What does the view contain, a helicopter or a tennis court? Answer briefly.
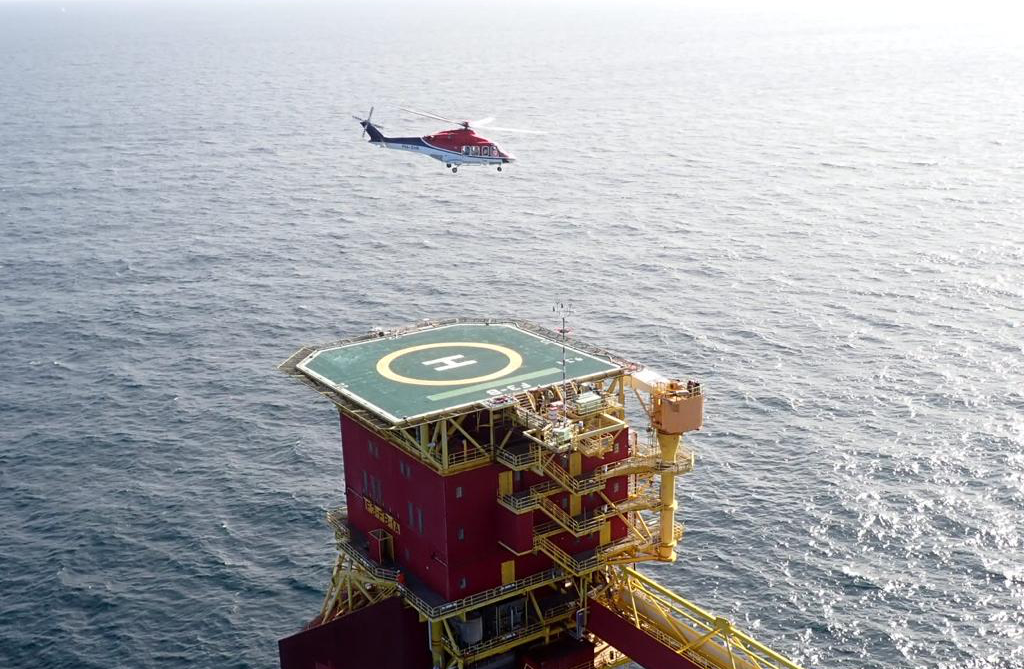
helicopter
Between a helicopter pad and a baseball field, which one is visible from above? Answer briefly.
helicopter pad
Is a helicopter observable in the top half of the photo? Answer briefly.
Yes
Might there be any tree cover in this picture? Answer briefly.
No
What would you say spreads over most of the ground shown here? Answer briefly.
water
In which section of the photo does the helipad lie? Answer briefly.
center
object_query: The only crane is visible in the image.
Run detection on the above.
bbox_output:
[585,343,706,569]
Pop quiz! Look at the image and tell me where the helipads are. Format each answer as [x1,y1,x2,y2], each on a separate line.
[278,317,631,469]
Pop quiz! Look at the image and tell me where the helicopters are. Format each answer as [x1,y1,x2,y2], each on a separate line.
[354,106,544,173]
